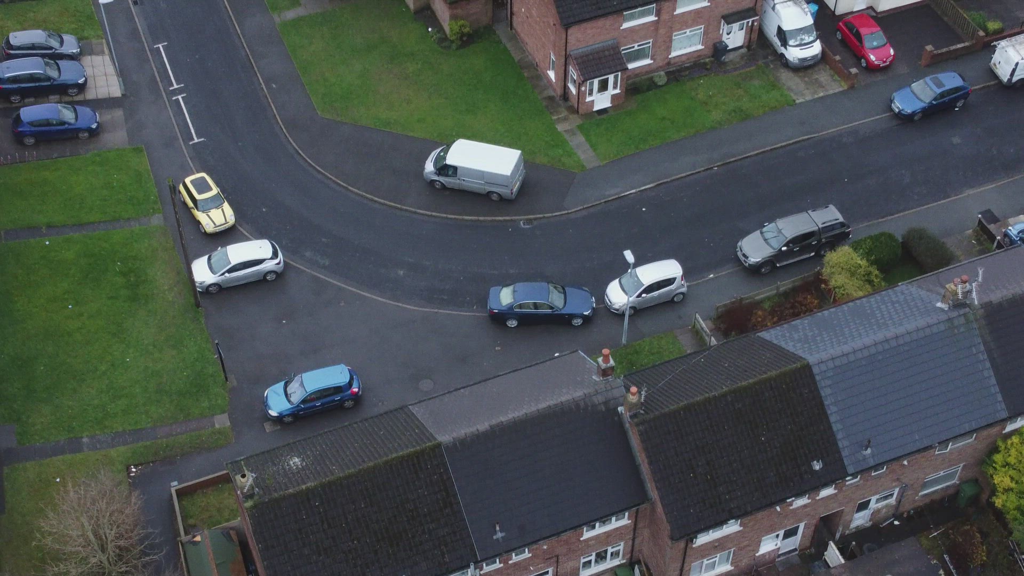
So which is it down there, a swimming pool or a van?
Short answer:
van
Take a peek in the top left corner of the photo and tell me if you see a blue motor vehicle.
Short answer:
Yes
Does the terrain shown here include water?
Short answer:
No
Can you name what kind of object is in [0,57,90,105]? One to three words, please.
car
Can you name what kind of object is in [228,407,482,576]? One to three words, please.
house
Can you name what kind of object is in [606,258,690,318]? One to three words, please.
car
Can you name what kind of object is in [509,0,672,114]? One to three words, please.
house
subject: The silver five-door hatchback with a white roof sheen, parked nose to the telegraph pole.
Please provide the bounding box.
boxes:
[192,236,288,295]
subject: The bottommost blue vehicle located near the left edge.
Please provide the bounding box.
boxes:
[12,100,102,146]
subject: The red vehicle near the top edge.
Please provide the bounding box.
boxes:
[834,13,893,69]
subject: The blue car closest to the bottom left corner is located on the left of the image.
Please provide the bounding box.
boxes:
[264,361,365,426]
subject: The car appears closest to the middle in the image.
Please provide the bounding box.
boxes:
[486,279,596,329]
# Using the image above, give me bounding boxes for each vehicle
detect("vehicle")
[486,279,596,329]
[758,0,822,72]
[176,169,237,237]
[975,34,1024,92]
[606,258,690,318]
[0,26,83,66]
[12,100,102,146]
[889,69,973,122]
[423,139,528,202]
[192,236,288,295]
[834,13,893,69]
[0,57,90,105]
[736,205,848,277]
[264,361,365,426]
